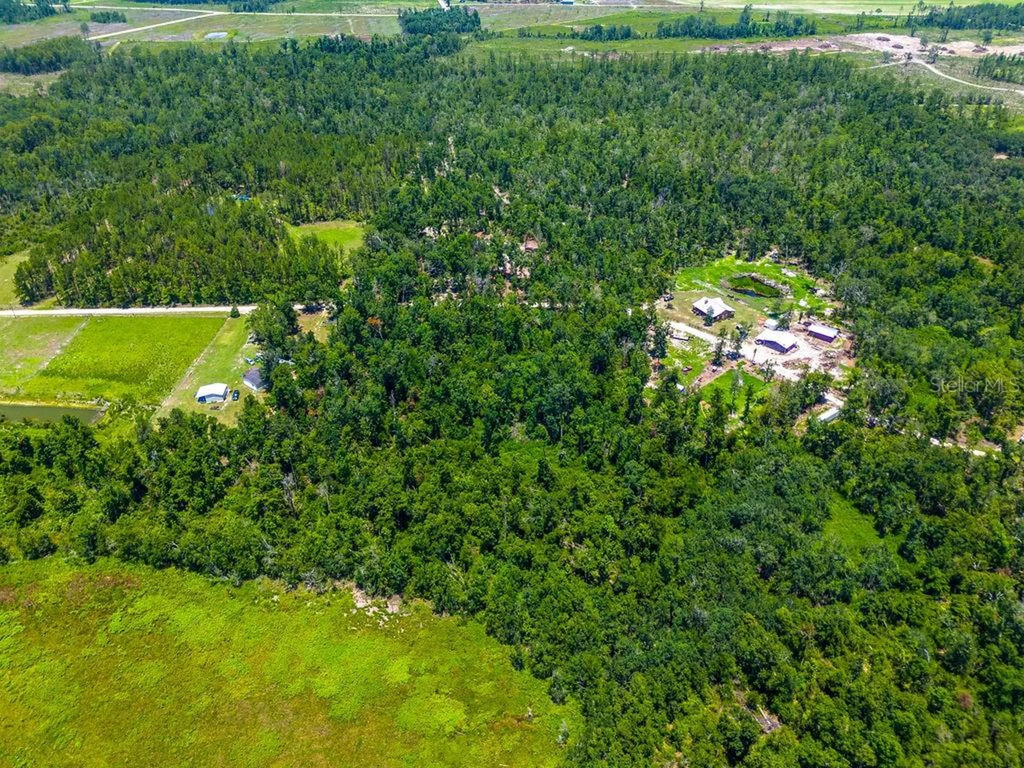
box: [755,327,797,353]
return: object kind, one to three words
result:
building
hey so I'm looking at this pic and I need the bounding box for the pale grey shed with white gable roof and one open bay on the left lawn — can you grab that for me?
[194,378,232,402]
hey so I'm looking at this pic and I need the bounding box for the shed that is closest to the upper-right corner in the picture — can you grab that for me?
[809,323,837,342]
